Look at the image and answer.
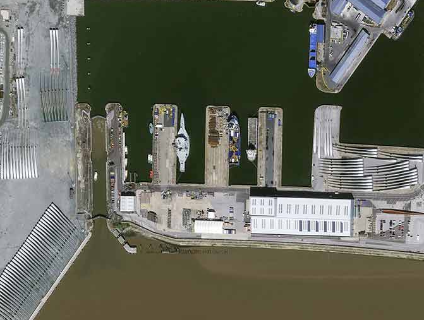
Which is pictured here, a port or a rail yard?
port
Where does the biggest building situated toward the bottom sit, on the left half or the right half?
right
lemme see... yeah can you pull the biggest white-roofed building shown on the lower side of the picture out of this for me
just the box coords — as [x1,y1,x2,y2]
[276,199,356,236]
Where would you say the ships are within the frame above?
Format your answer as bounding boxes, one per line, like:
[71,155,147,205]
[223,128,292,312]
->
[308,25,317,78]
[388,9,412,39]
[249,117,257,149]
[229,114,239,164]
[175,113,189,172]
[122,113,129,124]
